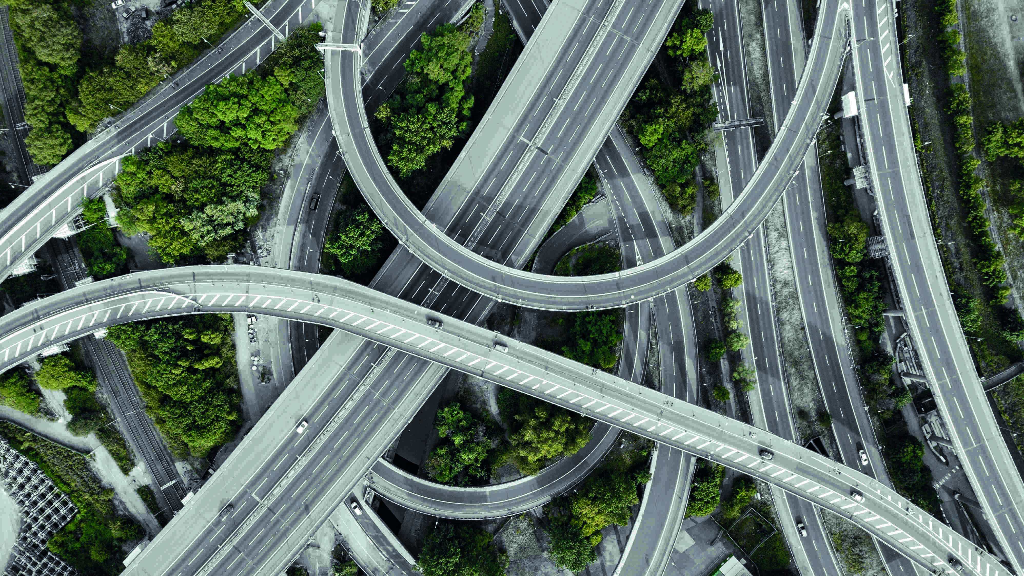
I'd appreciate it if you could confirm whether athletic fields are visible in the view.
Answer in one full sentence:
No, the frame has no athletic field in it.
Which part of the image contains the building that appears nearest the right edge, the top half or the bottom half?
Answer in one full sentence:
Seen from above, the building that appears nearest the right edge lies in the bottom half of the view.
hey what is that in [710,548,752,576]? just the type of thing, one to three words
building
